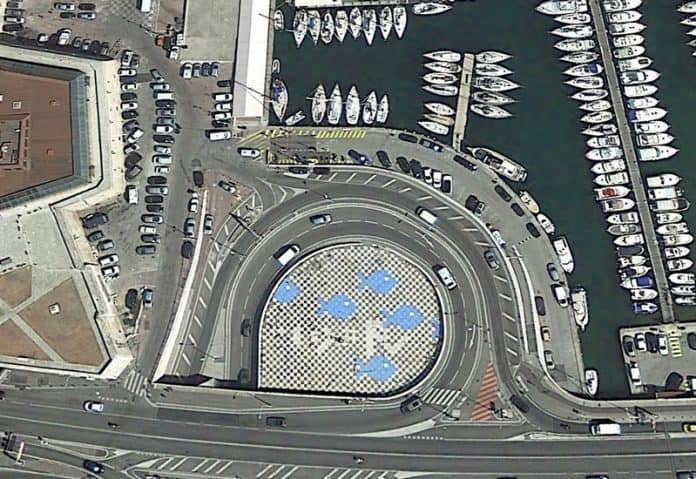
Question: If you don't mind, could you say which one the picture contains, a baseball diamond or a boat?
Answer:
boat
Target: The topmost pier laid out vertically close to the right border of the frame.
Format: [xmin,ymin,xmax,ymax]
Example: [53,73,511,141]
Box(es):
[589,0,674,324]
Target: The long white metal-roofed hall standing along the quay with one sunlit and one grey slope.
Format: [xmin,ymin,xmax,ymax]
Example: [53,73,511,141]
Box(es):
[234,0,271,118]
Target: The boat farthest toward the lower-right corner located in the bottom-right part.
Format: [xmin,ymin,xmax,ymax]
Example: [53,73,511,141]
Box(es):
[585,367,598,395]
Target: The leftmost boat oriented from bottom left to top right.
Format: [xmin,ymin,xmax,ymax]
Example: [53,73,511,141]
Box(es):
[287,110,306,124]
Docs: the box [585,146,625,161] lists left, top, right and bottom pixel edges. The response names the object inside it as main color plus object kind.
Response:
white boat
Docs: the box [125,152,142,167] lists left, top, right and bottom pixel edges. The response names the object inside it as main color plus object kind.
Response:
black car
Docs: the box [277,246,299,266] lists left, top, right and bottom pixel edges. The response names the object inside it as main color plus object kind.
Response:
white vehicle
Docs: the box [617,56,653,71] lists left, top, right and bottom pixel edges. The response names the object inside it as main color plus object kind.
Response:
white boat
